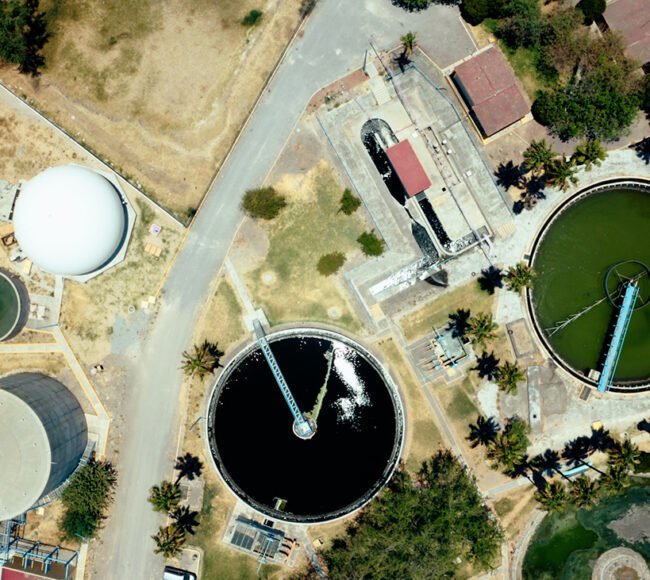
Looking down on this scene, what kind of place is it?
industrial area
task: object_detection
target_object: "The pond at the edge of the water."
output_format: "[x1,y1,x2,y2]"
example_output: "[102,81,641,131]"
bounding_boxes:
[517,471,650,580]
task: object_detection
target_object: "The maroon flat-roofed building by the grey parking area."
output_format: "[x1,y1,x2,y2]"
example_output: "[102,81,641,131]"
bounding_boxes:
[453,46,531,138]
